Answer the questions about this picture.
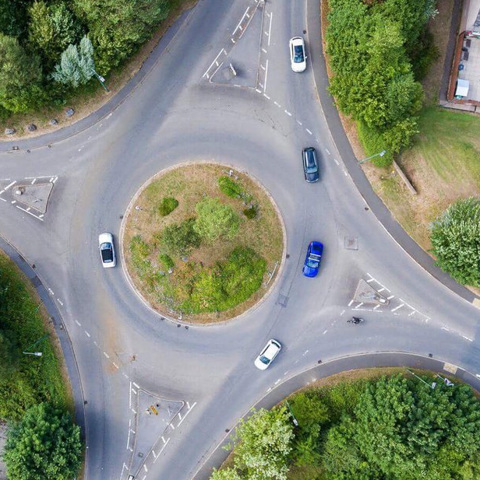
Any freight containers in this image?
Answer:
No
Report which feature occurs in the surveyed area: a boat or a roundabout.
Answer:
roundabout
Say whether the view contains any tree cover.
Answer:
Yes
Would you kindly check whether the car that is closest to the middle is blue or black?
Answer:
blue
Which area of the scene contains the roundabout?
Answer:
center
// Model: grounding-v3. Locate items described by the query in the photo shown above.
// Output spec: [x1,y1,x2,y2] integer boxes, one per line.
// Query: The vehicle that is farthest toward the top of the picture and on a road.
[289,36,307,73]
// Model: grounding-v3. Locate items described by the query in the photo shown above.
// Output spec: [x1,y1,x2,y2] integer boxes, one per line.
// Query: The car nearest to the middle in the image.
[301,242,323,278]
